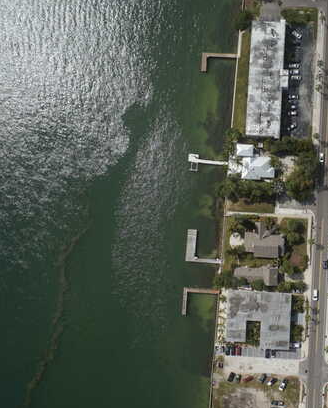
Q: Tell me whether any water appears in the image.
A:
Yes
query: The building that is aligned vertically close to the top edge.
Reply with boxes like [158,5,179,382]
[246,20,289,140]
